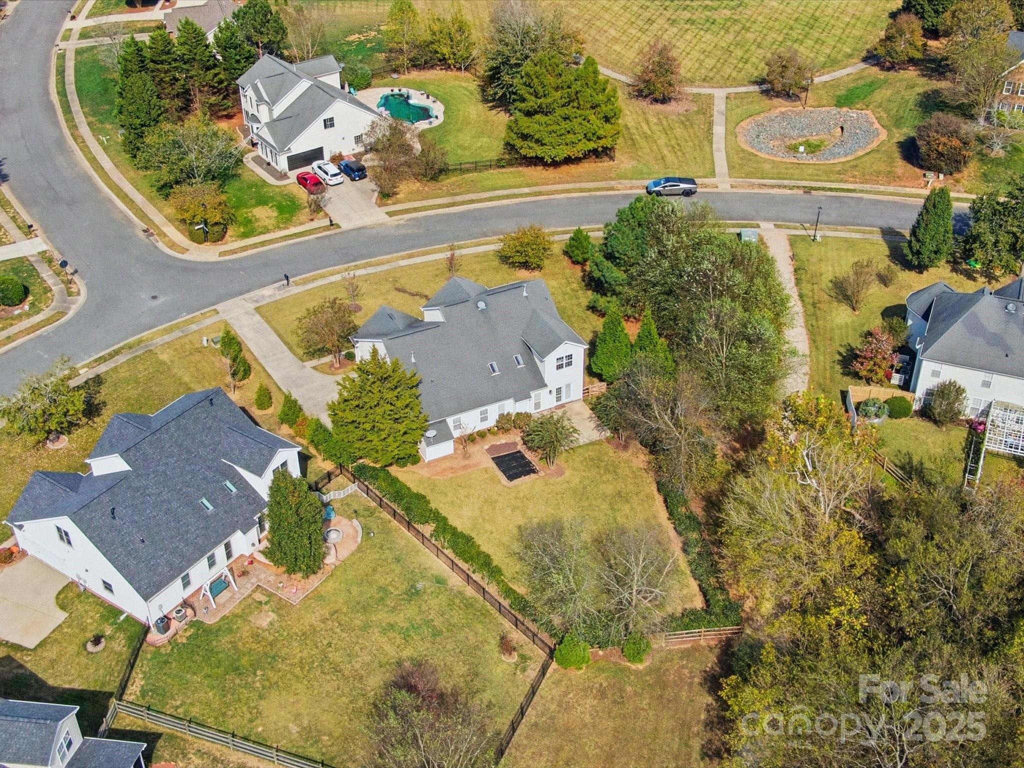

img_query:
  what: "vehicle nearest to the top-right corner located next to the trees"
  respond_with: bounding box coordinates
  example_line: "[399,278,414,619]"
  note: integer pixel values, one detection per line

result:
[648,176,698,197]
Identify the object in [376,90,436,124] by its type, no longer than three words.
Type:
swimming pool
